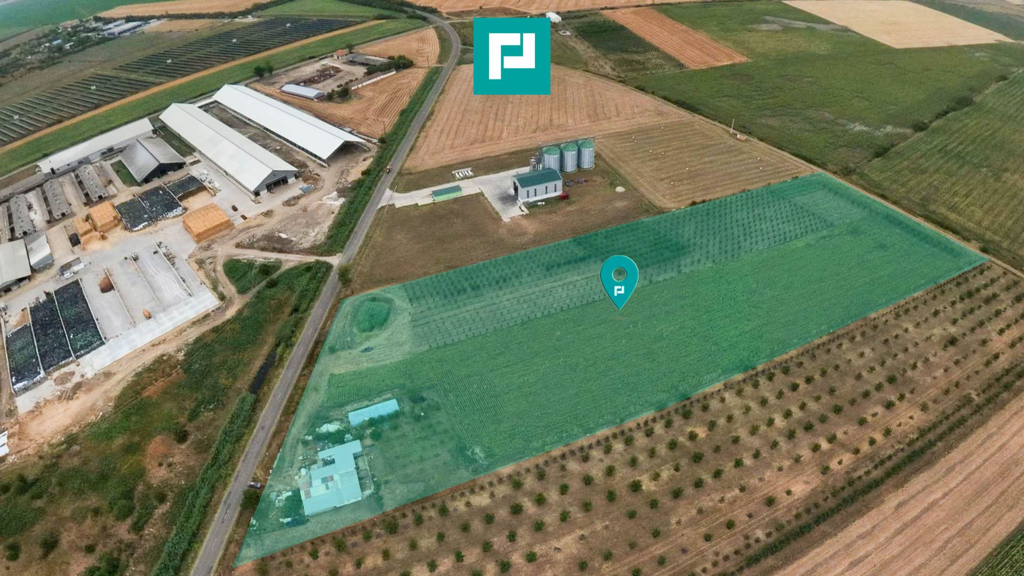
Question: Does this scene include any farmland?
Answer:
Yes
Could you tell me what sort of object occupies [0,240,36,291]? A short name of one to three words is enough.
barn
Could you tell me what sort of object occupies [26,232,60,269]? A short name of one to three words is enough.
barn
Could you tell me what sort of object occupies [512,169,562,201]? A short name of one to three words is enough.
building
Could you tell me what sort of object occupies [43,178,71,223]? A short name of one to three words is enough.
shed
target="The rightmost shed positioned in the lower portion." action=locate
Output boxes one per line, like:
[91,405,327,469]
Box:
[349,399,399,428]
